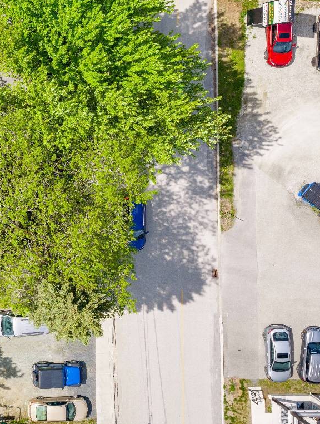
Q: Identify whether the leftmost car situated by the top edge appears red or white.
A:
red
